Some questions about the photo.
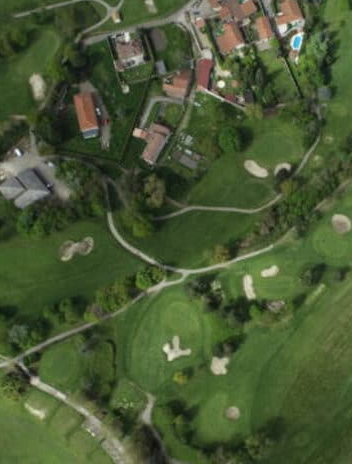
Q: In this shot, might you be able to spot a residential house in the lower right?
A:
No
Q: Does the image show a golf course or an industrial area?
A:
golf course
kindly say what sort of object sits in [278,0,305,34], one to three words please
house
